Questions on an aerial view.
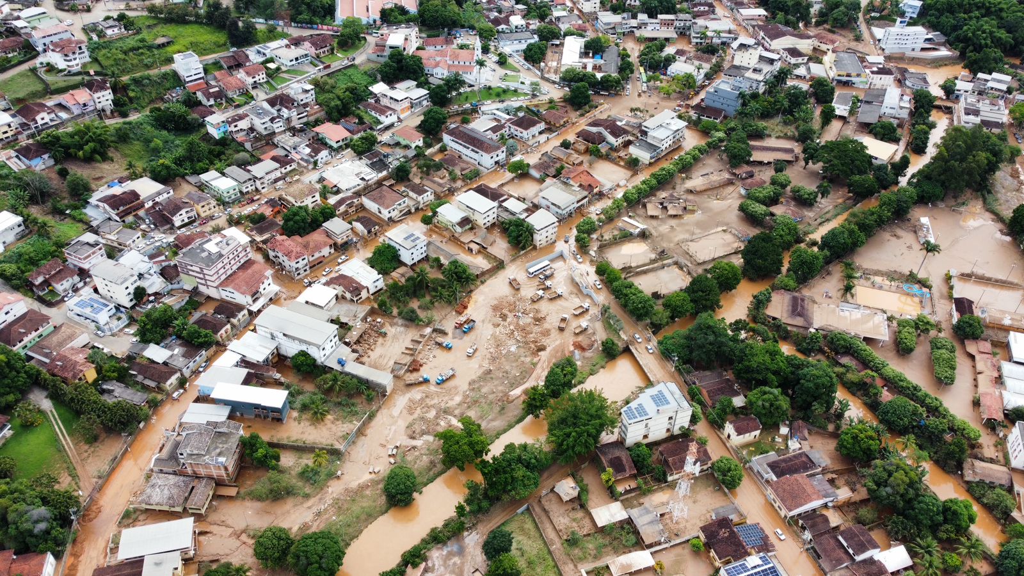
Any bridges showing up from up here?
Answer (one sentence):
Yes, this view includes a bridge.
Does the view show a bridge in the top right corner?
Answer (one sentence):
No, no bridge is visible in the top right corner.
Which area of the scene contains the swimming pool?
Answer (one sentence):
Look in the right portion of the view to spot the swimming pool.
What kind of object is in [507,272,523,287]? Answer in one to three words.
vehicle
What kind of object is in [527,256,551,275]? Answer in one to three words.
vehicle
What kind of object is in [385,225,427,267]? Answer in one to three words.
building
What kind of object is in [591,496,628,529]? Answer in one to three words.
house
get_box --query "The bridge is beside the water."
[605,316,692,388]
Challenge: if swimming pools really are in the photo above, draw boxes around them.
[856,285,921,315]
